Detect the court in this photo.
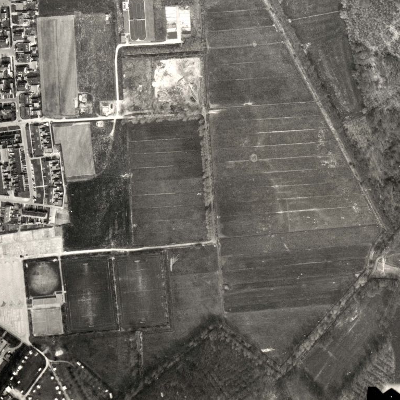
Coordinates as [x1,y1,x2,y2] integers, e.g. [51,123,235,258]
[32,293,62,336]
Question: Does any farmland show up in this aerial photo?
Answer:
Yes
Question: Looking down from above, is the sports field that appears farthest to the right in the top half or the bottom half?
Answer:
bottom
